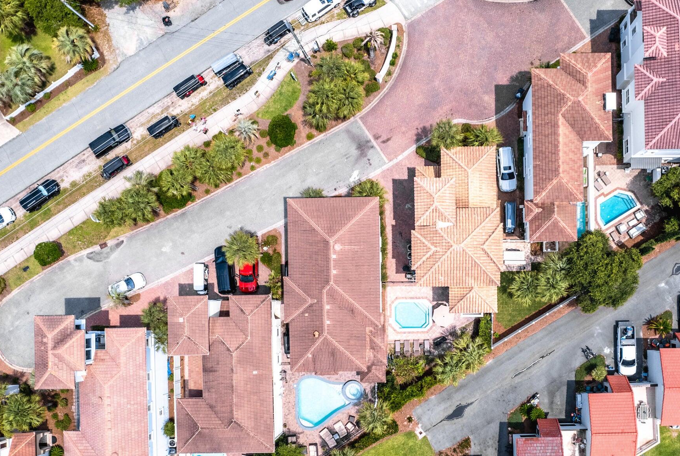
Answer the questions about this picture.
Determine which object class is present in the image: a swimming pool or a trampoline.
swimming pool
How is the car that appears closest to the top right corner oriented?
up and down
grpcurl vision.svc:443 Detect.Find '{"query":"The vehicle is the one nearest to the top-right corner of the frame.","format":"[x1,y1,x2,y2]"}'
[498,146,519,190]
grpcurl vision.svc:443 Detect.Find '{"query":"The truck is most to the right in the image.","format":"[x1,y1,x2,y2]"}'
[618,319,641,377]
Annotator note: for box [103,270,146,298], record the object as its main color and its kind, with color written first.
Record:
white car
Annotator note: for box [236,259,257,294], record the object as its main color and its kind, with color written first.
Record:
red car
